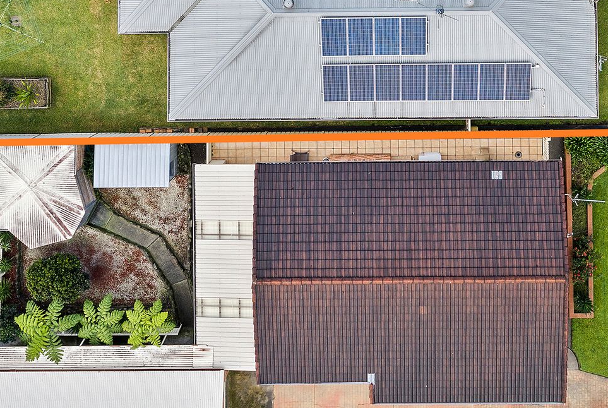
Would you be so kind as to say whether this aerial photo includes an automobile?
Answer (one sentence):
No, I find no automobile anywhere in the image.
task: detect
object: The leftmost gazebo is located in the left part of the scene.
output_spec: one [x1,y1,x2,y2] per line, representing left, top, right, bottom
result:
[0,143,96,247]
